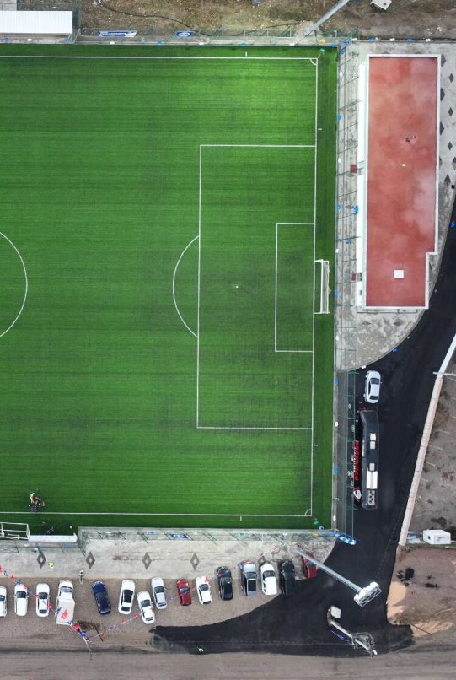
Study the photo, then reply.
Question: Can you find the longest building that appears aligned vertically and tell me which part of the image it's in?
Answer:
top right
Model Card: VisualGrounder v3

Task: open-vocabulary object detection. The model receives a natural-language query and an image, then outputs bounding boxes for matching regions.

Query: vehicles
[363,371,381,403]
[118,579,135,615]
[241,561,259,597]
[57,579,74,627]
[279,560,298,596]
[135,590,154,624]
[195,575,211,605]
[13,584,30,616]
[0,585,8,617]
[150,577,166,609]
[300,552,317,579]
[36,583,51,617]
[176,578,191,606]
[91,581,112,615]
[259,561,277,594]
[350,410,380,506]
[216,566,233,600]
